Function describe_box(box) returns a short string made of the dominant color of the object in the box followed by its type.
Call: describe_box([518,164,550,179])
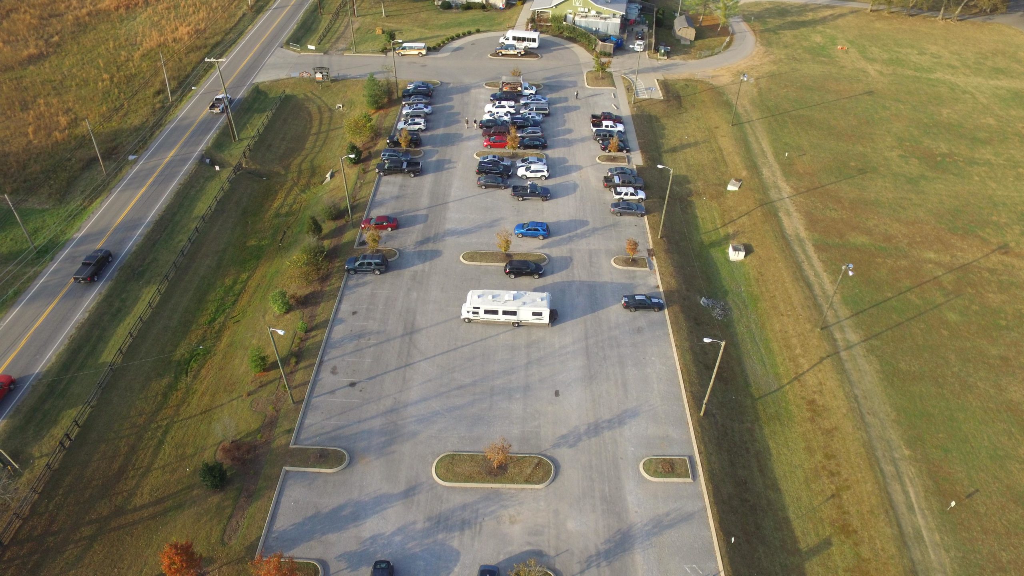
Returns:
white car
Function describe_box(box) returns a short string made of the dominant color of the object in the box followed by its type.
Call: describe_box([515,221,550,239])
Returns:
blue car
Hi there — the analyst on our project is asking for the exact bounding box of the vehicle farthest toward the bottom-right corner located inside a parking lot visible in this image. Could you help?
[621,292,663,311]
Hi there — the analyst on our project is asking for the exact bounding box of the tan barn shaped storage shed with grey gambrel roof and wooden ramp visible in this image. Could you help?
[675,12,696,43]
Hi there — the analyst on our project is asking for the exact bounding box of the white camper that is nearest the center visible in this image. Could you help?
[461,287,559,327]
